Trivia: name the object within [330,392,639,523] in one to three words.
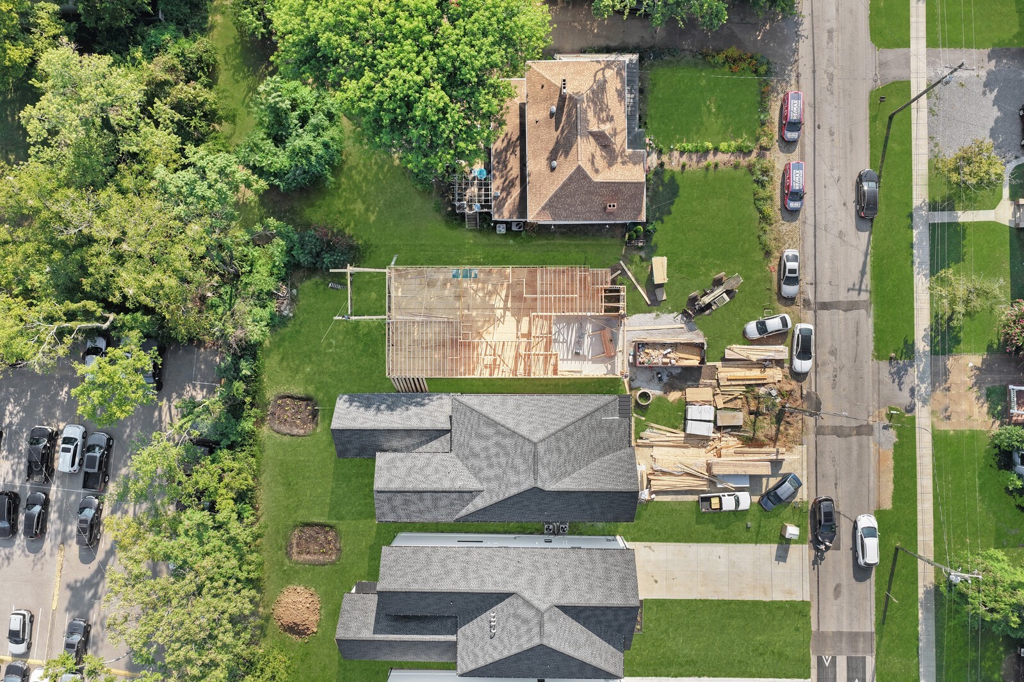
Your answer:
house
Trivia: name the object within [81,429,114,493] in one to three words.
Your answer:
truck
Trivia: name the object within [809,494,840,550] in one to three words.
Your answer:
car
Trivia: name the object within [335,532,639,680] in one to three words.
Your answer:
house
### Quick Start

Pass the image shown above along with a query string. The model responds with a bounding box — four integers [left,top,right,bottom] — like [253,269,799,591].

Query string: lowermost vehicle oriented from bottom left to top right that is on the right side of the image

[755,469,803,513]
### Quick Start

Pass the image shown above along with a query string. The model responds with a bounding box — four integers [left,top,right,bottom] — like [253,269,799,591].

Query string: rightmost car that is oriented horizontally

[740,313,793,341]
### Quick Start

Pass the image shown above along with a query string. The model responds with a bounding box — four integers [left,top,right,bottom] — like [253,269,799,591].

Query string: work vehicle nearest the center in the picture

[670,272,748,329]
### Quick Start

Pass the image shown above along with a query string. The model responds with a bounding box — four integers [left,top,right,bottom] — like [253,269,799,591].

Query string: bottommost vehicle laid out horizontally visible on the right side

[695,490,751,515]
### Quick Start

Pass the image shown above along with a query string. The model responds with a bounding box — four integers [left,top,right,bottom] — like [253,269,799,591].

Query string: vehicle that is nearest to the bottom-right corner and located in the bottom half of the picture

[850,513,881,569]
